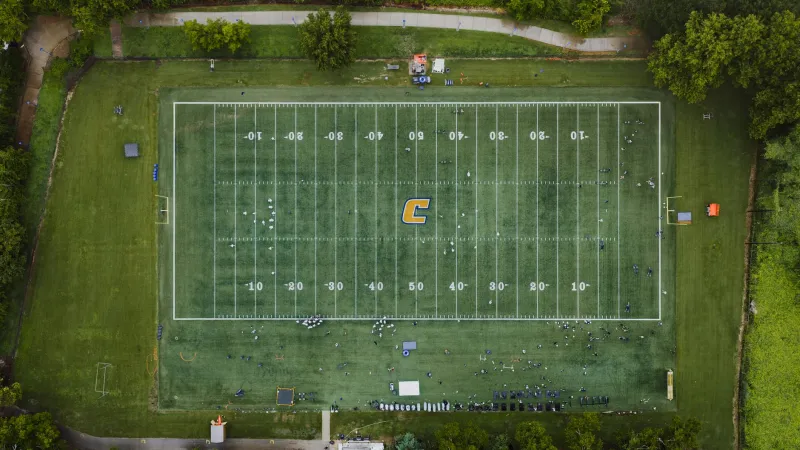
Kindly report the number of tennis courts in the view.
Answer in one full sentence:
No tennis courts are visible.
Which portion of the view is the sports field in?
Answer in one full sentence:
The sports field is in the center part of the image.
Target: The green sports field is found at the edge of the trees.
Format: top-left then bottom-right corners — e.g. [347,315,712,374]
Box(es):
[158,88,677,412]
